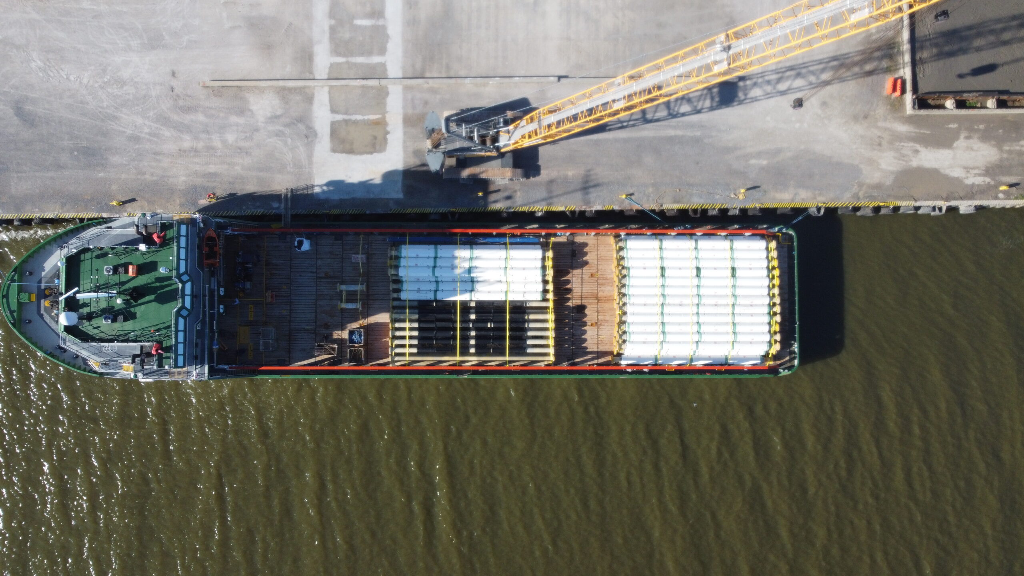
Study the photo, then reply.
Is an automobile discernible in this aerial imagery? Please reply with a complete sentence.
No, the frame has no automobile in it.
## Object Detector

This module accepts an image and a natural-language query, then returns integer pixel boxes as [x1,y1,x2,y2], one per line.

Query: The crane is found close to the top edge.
[425,0,973,182]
